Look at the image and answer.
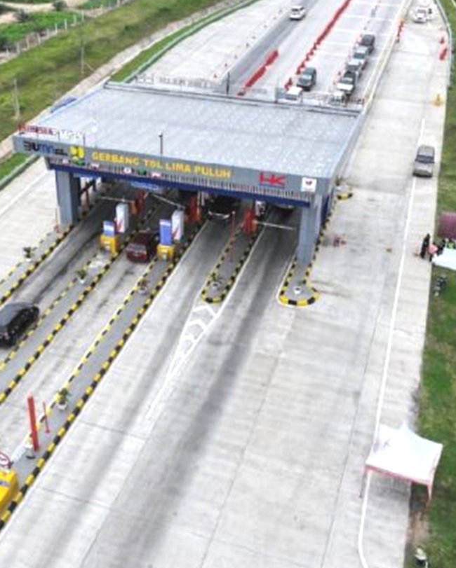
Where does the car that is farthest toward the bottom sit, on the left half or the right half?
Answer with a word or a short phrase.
left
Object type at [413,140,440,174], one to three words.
car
